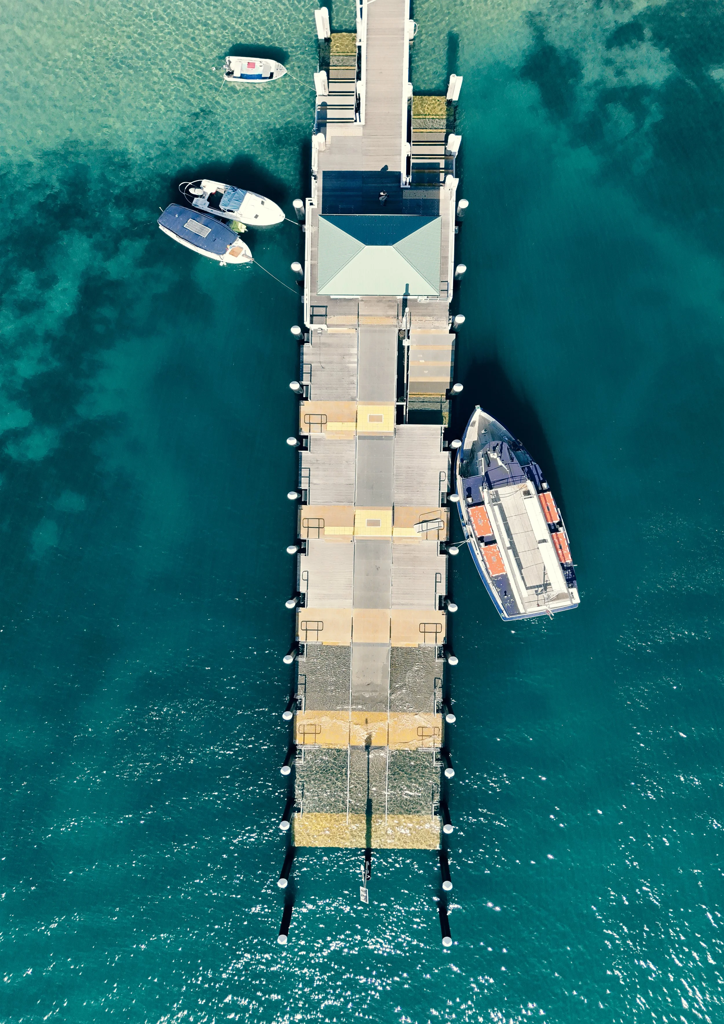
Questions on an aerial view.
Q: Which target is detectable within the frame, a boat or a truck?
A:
boat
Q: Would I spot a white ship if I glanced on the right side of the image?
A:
Yes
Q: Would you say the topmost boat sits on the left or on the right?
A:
left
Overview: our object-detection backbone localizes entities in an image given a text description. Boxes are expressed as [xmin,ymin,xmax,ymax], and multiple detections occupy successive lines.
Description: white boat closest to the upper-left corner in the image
[213,56,286,85]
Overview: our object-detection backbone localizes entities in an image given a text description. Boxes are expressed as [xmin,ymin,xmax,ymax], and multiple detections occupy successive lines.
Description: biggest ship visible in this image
[454,405,580,621]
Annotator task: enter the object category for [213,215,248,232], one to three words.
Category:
boat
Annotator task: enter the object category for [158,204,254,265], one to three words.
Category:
boat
